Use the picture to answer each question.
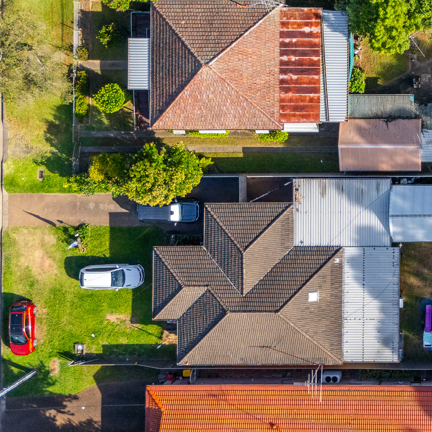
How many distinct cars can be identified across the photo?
three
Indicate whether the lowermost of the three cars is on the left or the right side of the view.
left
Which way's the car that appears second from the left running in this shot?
from side to side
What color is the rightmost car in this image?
blue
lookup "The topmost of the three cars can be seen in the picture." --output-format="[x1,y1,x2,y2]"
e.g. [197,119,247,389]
[134,199,201,227]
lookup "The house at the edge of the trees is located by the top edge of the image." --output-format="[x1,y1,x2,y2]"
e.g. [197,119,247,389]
[128,0,354,134]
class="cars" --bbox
[4,300,36,353]
[80,263,144,292]
[134,199,201,227]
